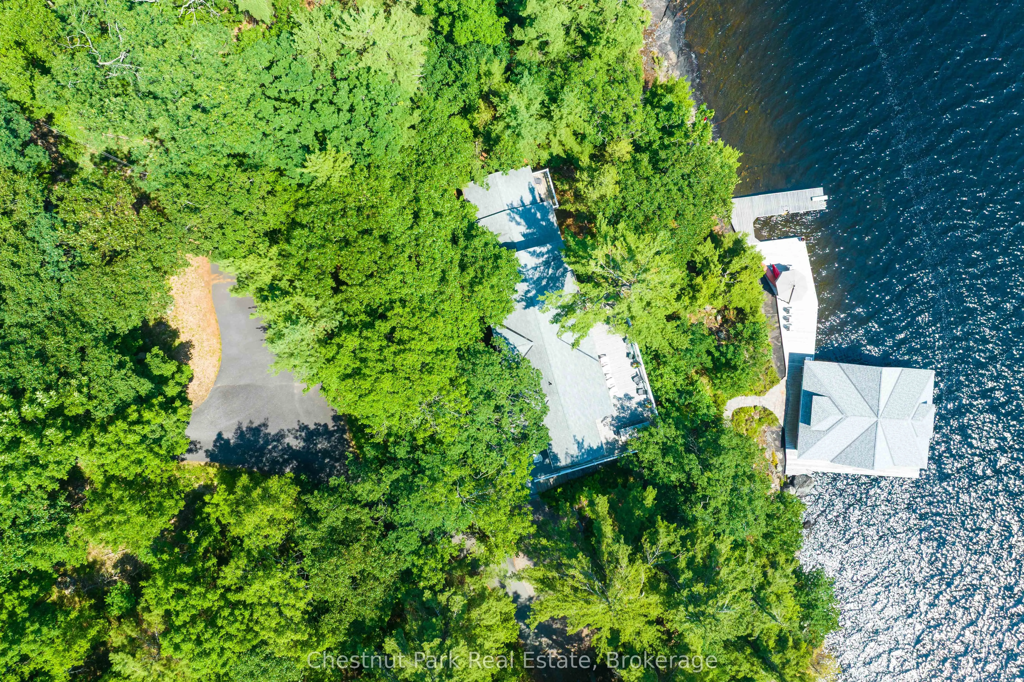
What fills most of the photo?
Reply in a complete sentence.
The bulk of the photo consists of trees.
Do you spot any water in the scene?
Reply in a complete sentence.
Yes, there is water in the image.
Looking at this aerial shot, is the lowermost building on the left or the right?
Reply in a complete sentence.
The lowermost building appears in the right half of the scene.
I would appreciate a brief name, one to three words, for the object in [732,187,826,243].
pier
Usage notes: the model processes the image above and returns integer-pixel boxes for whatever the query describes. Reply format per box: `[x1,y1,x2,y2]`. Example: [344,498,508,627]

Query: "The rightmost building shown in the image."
[792,360,936,470]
